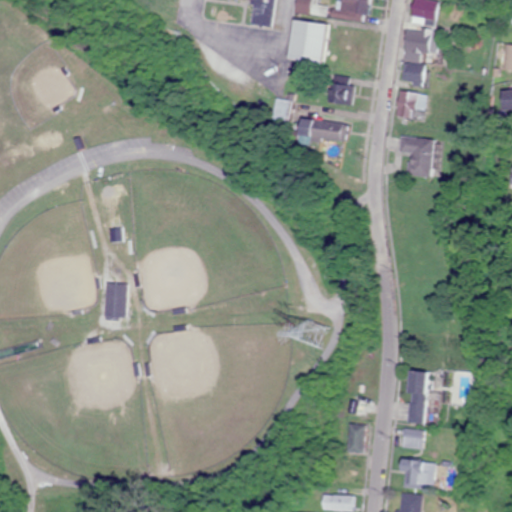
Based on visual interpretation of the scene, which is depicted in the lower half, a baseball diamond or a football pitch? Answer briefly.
baseball diamond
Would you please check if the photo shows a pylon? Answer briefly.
Yes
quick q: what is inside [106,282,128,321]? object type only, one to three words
building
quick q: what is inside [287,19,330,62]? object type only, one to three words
building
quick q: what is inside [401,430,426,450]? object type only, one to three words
house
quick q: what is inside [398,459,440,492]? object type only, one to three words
house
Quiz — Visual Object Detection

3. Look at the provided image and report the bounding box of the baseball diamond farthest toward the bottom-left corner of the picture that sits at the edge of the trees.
[0,336,147,480]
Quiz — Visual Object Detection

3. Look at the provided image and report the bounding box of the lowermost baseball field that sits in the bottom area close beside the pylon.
[146,322,292,476]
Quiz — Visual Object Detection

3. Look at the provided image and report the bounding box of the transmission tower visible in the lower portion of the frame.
[280,320,330,350]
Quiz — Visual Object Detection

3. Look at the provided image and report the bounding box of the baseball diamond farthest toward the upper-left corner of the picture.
[10,41,79,128]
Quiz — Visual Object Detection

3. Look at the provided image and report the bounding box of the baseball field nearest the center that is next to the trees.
[130,168,288,314]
